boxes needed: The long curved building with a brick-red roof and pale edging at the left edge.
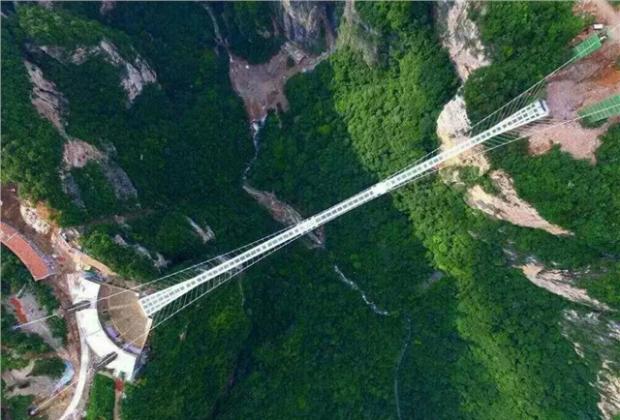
[0,220,54,280]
